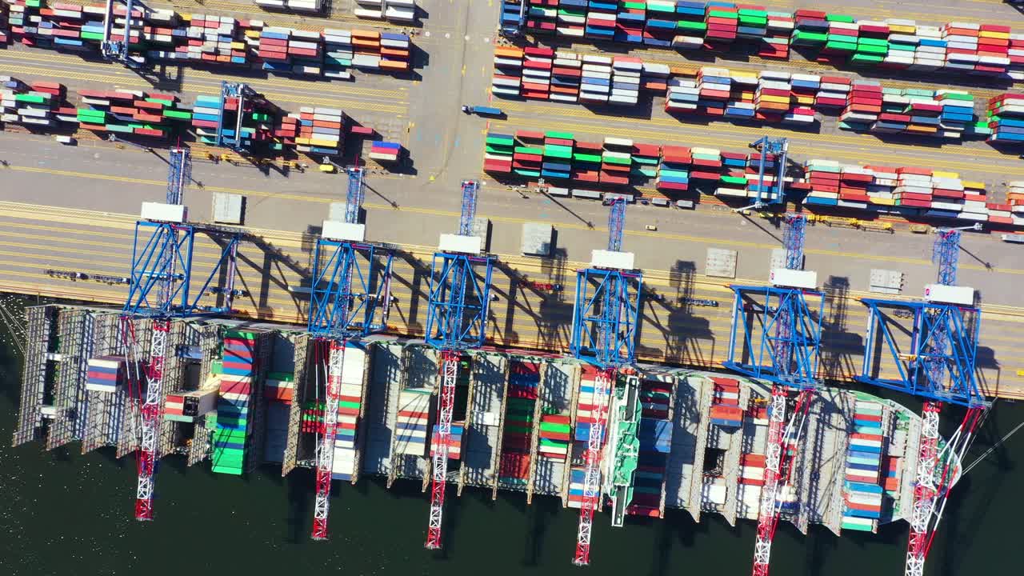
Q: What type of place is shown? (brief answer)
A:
port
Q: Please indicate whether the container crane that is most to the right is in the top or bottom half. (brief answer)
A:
bottom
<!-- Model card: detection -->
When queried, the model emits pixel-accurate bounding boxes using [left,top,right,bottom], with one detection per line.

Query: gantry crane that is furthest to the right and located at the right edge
[842,229,992,576]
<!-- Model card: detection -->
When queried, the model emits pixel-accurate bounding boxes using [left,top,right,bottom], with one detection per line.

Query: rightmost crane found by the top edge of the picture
[495,0,528,45]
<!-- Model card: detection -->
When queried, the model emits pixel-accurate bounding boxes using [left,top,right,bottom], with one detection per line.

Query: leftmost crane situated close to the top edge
[101,0,161,79]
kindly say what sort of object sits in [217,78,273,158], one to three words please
crane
